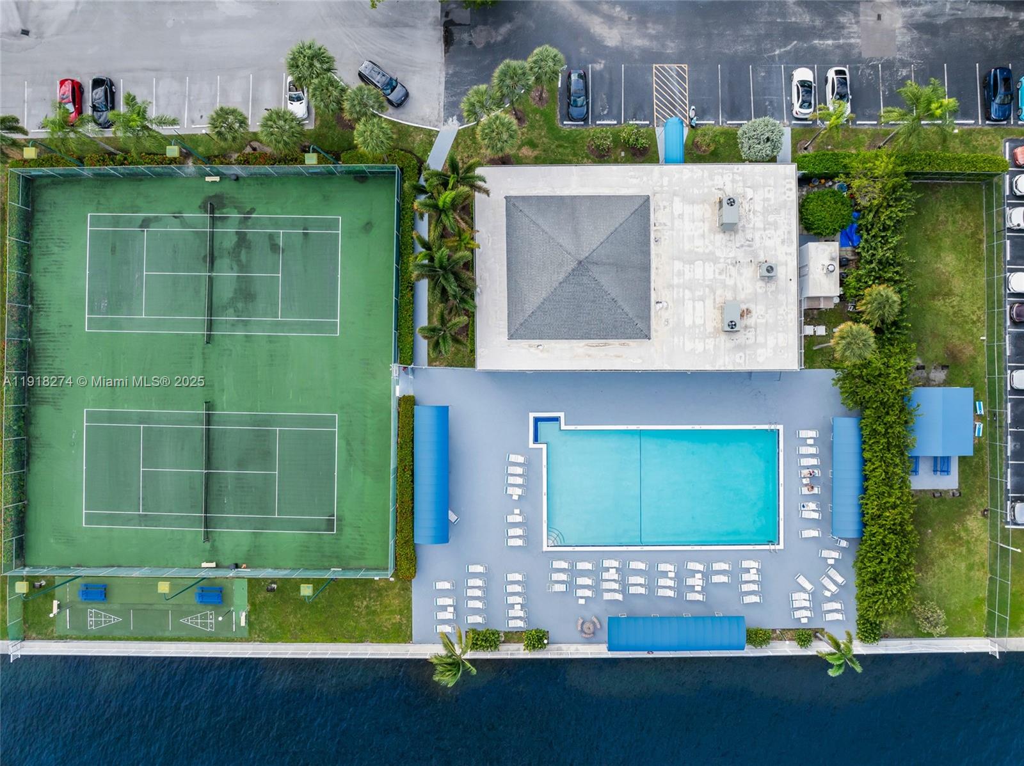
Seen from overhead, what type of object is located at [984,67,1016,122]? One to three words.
car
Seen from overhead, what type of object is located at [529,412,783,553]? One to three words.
swimming pool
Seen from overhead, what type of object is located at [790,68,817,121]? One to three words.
car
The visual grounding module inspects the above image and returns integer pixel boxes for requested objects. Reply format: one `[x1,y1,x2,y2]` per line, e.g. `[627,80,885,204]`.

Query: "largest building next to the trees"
[474,163,801,372]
